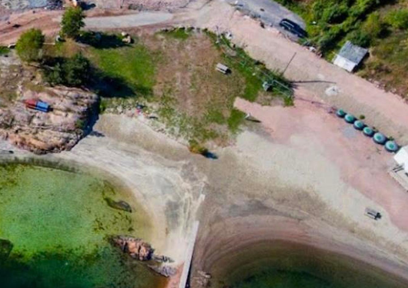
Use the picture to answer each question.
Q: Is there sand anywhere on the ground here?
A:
Yes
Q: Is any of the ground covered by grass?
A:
Yes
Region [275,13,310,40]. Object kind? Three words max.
vehicle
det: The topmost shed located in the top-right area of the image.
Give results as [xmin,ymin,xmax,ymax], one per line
[329,41,369,79]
